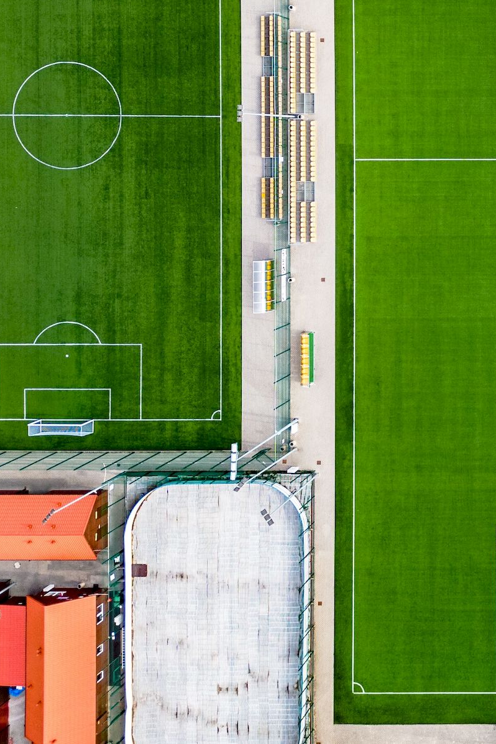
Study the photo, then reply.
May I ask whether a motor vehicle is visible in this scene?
No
